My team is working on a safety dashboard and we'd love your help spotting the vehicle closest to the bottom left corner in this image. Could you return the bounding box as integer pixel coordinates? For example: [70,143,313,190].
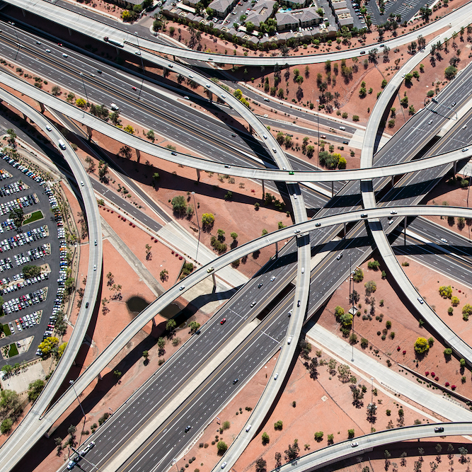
[71,444,93,466]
